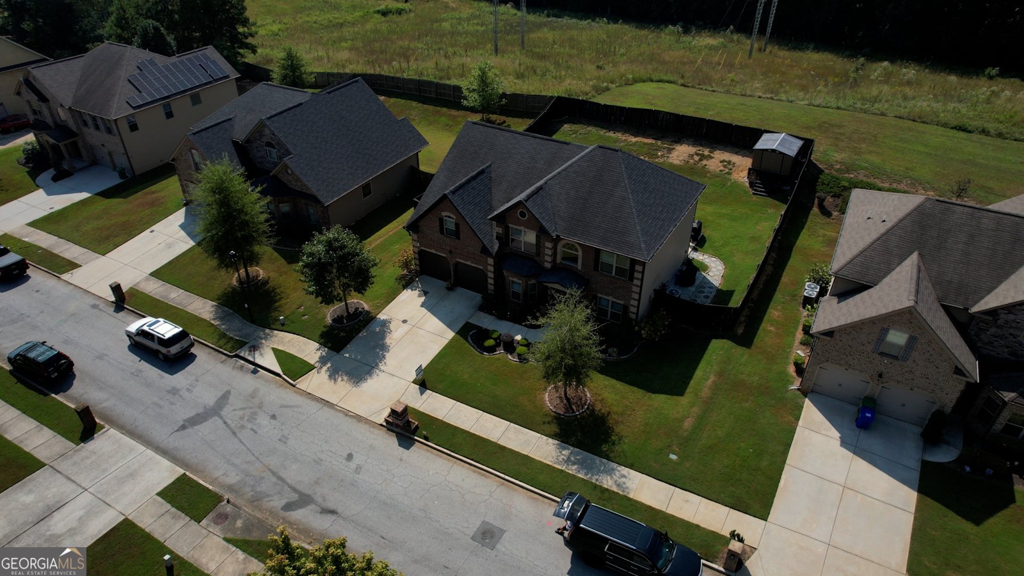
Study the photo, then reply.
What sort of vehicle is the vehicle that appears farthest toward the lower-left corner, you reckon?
automobile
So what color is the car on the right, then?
black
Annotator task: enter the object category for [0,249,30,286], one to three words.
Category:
truck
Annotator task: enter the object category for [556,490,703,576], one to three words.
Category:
car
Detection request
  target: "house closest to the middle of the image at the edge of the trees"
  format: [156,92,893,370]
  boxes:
[402,120,710,329]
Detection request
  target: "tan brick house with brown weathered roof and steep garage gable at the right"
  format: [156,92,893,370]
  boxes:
[790,181,1024,448]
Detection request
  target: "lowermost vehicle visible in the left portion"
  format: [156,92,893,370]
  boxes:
[5,339,77,387]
